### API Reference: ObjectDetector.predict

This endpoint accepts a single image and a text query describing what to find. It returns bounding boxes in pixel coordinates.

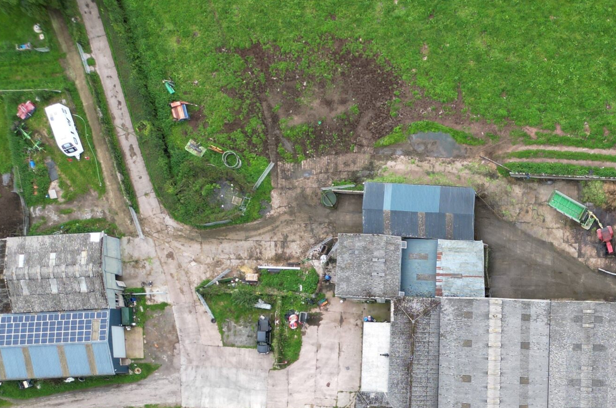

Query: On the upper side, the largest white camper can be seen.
[44,101,82,160]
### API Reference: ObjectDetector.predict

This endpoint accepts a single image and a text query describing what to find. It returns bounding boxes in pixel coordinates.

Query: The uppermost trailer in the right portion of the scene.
[547,190,597,230]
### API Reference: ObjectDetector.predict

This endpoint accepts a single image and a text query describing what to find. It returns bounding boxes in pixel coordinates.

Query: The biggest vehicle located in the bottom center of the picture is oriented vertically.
[257,319,273,356]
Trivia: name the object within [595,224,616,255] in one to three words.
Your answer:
work vehicle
